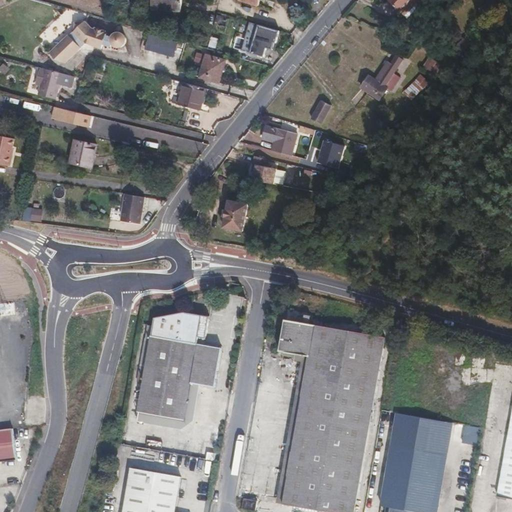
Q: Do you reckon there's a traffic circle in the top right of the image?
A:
No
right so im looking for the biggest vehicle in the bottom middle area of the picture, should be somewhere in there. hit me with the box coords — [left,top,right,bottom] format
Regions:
[232,435,245,476]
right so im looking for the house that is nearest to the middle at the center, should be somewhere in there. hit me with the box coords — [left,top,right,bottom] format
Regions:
[220,200,248,232]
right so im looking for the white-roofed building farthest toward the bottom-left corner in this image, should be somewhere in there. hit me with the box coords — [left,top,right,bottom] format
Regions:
[121,468,182,512]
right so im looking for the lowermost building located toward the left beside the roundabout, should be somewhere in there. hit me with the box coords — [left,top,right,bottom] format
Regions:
[137,312,222,429]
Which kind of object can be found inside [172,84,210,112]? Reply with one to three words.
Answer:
house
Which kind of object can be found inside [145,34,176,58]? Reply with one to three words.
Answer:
barn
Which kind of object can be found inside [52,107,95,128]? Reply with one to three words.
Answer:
shed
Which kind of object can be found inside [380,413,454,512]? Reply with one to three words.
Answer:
building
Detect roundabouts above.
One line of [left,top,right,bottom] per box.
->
[46,238,193,306]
